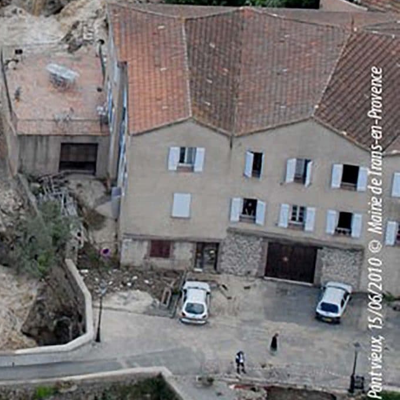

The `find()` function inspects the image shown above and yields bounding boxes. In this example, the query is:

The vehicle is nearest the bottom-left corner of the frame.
[180,285,214,331]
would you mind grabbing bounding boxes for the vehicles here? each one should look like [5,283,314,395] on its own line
[180,285,214,331]
[312,282,356,335]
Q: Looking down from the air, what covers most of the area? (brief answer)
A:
buildings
